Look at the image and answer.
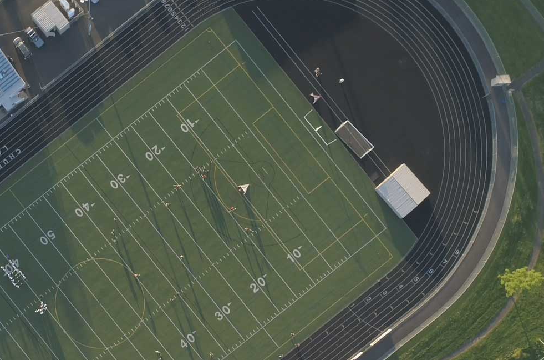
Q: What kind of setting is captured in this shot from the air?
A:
sports ground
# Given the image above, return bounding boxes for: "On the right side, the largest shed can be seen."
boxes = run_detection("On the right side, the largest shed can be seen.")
[372,163,431,218]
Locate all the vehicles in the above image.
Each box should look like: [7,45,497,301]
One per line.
[14,36,32,60]
[24,24,45,51]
